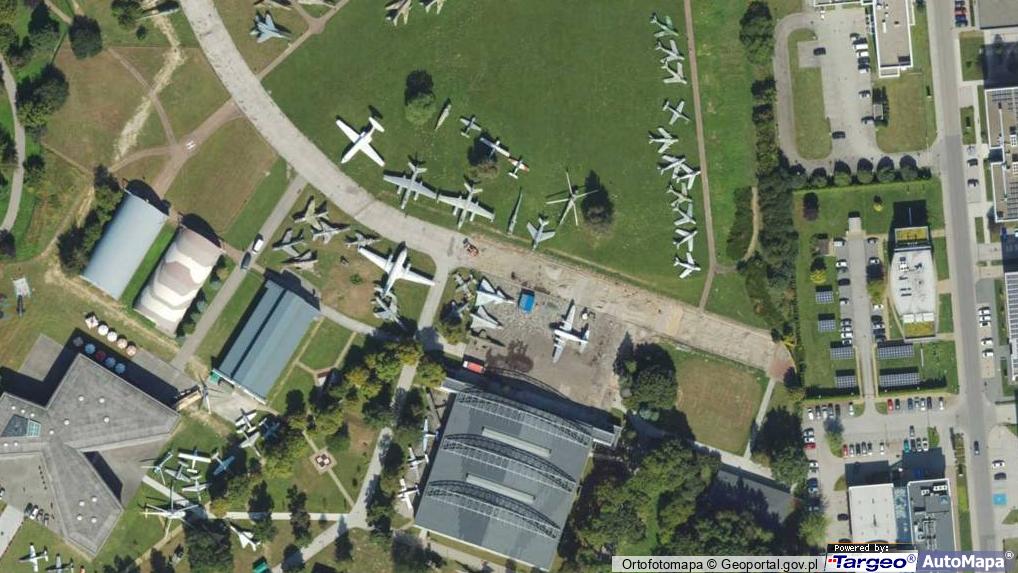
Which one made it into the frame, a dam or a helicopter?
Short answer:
helicopter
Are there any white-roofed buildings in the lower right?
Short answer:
Yes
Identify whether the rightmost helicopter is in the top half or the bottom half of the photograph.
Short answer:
top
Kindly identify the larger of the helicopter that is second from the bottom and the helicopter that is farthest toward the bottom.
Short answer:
the helicopter that is farthest toward the bottom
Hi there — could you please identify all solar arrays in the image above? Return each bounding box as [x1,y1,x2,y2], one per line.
[818,320,835,332]
[878,344,914,359]
[831,348,854,360]
[879,373,920,388]
[836,376,856,388]
[816,291,833,304]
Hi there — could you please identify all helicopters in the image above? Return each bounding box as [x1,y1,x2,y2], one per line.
[200,377,224,415]
[140,483,198,539]
[141,454,173,484]
[546,171,597,225]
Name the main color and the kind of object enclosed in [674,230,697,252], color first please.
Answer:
white airplane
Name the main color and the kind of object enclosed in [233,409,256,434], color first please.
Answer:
white airplane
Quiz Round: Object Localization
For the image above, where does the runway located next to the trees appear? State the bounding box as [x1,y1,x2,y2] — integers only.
[461,236,790,371]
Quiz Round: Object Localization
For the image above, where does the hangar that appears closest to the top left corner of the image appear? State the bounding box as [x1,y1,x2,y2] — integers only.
[82,190,169,301]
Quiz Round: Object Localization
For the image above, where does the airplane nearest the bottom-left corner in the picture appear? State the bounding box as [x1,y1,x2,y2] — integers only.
[17,545,47,572]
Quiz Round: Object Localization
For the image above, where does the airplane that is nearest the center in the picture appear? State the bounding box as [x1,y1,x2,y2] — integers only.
[477,282,517,311]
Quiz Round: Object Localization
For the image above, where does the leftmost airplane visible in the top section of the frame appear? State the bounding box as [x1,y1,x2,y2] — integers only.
[136,7,179,21]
